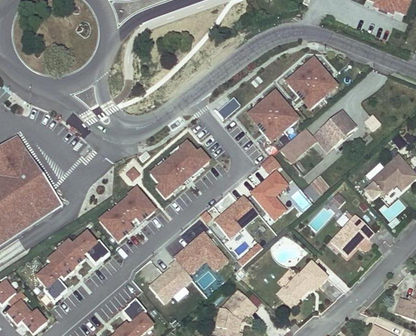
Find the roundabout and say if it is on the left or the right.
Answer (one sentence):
You can find the roundabout on the left side of the picture.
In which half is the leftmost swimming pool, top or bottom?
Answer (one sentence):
The bottom half of the photo is where the leftmost swimming pool is.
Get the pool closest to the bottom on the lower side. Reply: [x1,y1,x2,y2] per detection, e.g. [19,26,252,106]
[193,264,225,292]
